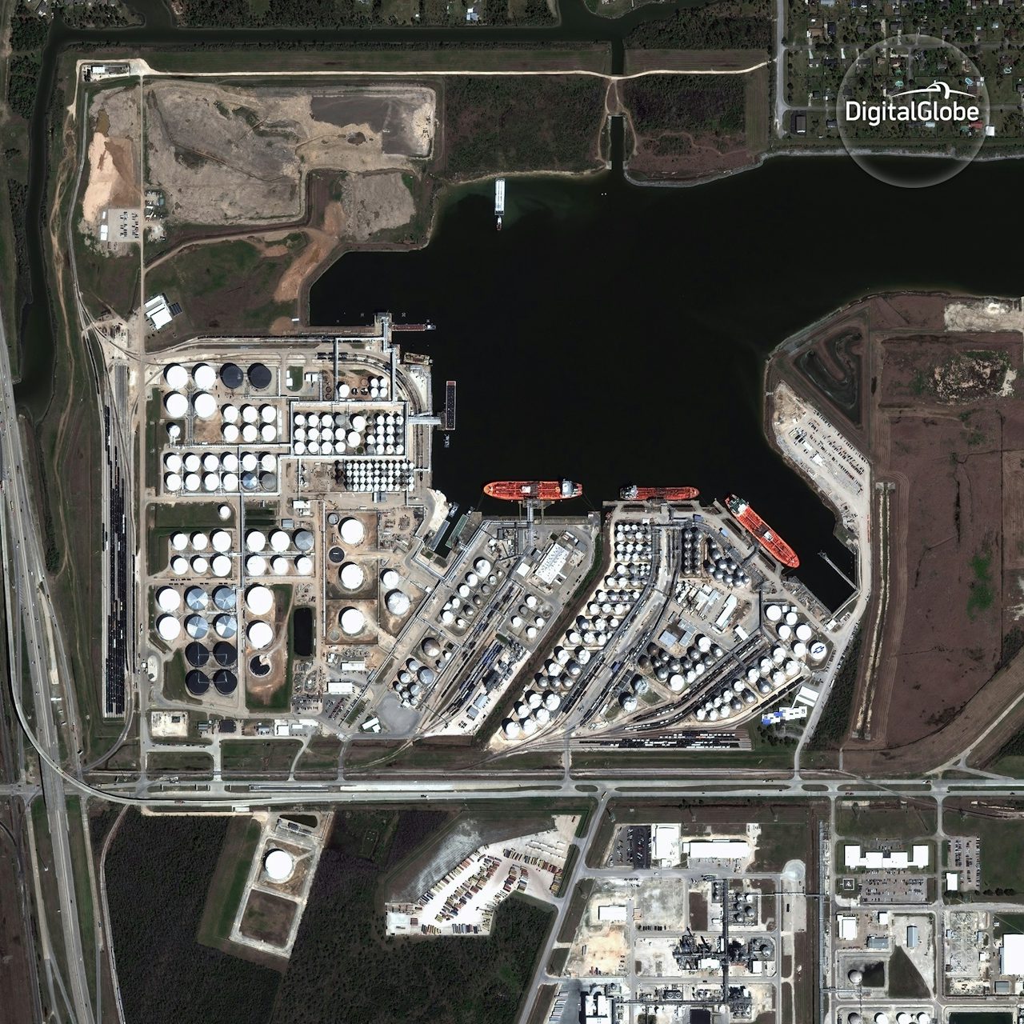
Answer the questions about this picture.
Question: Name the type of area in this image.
port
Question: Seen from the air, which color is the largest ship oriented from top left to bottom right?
red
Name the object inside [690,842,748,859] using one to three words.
building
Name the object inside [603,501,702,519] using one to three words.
pier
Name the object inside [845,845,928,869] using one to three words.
building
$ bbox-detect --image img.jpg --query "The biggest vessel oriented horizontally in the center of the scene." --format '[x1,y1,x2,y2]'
[484,478,582,499]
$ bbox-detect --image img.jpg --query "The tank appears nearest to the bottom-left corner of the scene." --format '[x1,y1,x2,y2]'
[265,851,294,881]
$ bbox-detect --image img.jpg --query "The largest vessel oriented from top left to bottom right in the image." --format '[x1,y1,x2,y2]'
[724,494,798,566]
